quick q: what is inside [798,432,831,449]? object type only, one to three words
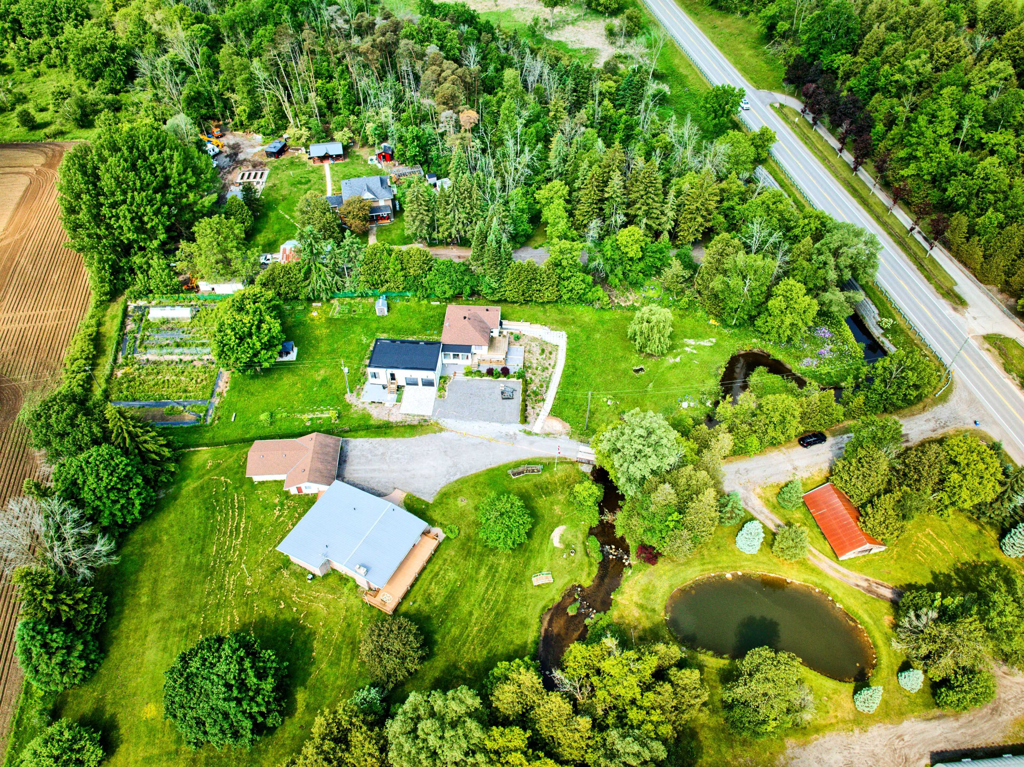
car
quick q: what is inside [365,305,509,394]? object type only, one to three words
house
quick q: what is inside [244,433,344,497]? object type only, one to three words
building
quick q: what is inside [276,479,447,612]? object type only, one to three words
house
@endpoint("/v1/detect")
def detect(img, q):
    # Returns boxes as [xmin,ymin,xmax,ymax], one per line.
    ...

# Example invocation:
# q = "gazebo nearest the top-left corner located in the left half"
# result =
[264,140,287,161]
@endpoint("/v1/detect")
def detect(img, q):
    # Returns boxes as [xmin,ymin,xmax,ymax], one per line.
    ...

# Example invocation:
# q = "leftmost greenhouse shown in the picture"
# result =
[145,306,195,324]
